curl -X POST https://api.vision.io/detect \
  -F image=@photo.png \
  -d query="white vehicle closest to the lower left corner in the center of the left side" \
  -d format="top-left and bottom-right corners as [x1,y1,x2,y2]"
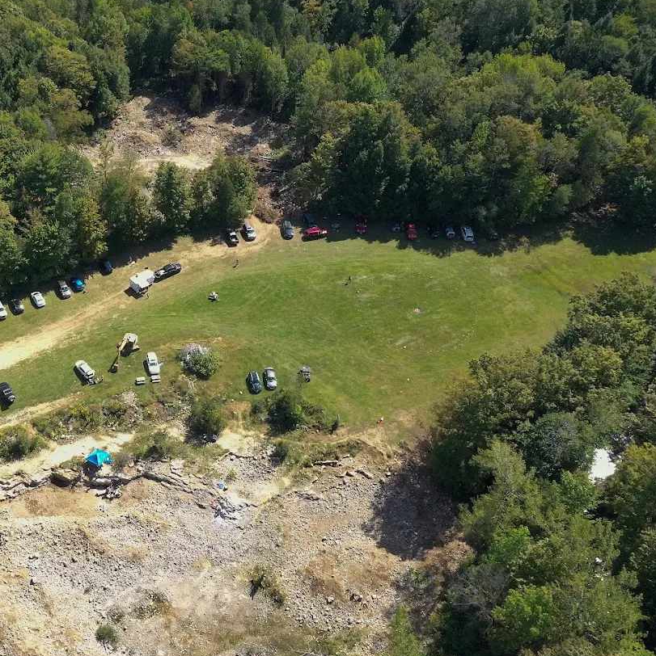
[74,360,96,382]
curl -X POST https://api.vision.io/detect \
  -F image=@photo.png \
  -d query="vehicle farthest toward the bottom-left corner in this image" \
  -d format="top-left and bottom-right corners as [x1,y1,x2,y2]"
[0,382,14,405]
